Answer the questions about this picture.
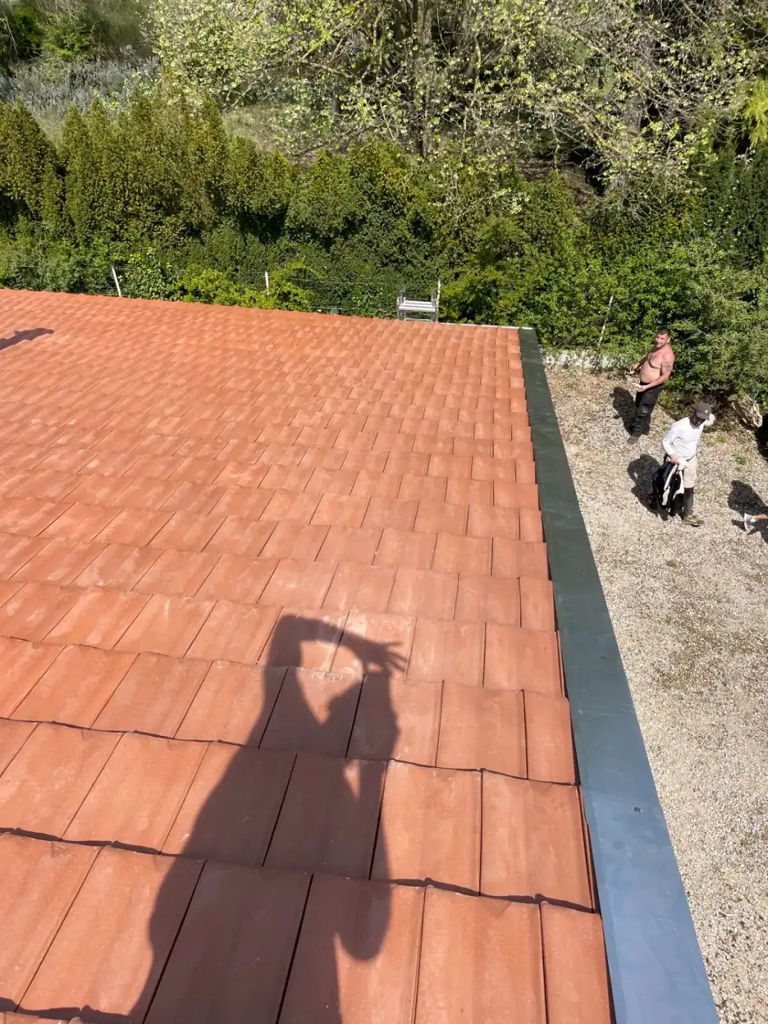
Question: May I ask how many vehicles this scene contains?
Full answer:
I count no vehicles.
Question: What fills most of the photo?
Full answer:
What you mostly see from above here is buildings.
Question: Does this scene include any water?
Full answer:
No, there's no water in this view.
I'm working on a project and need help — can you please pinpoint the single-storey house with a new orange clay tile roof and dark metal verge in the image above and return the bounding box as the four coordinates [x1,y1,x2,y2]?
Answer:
[0,297,715,1024]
